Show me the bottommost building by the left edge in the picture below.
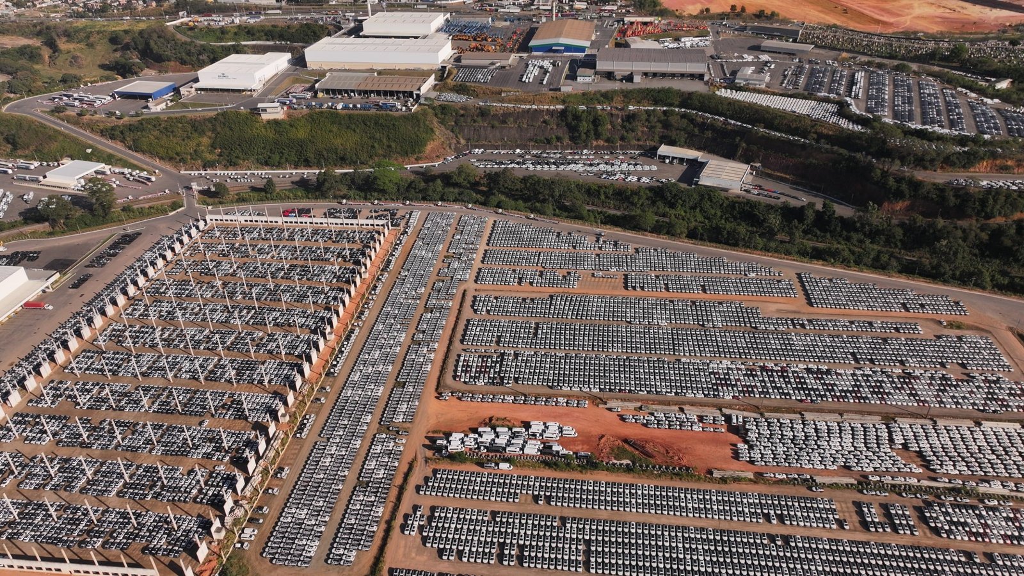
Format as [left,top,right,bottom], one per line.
[0,265,66,323]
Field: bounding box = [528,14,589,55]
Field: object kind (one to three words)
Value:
building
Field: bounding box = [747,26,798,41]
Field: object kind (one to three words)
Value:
shed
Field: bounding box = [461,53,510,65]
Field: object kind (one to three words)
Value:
building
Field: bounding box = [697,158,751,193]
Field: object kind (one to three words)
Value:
shed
